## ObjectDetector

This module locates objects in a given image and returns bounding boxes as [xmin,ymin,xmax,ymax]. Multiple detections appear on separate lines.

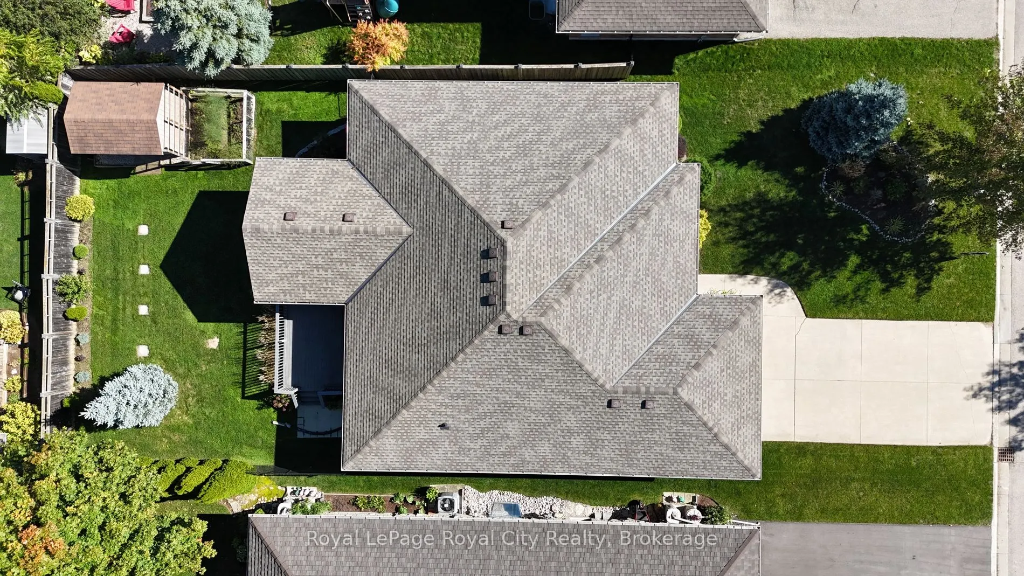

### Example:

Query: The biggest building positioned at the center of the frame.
[242,77,765,480]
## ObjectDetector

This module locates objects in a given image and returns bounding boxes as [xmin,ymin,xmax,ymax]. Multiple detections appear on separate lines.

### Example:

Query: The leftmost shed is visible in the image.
[7,105,58,161]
